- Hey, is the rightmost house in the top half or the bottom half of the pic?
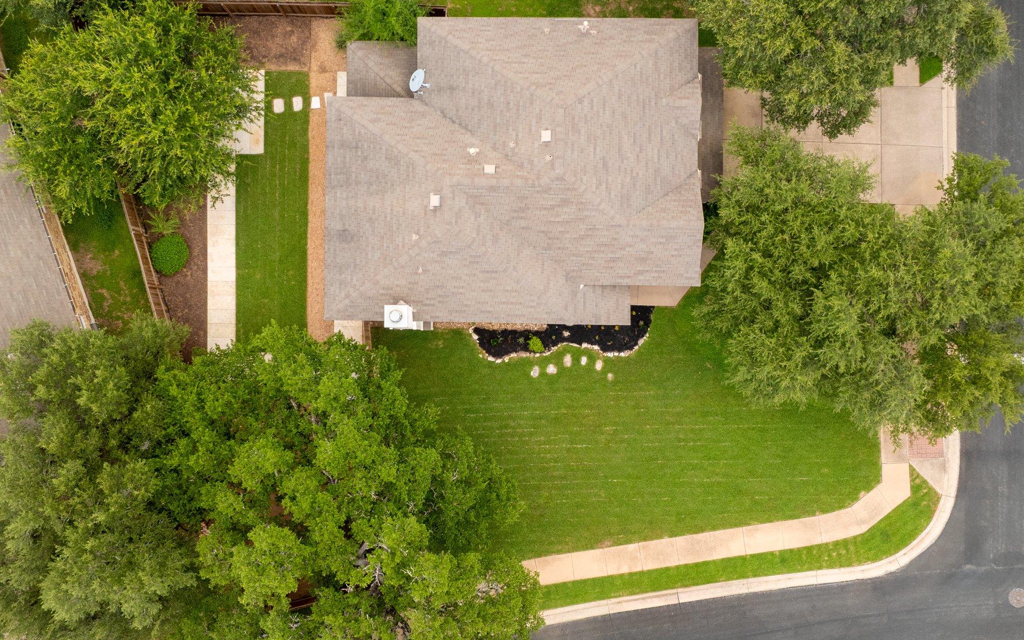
top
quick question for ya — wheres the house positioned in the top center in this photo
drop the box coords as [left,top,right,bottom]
[322,15,726,330]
